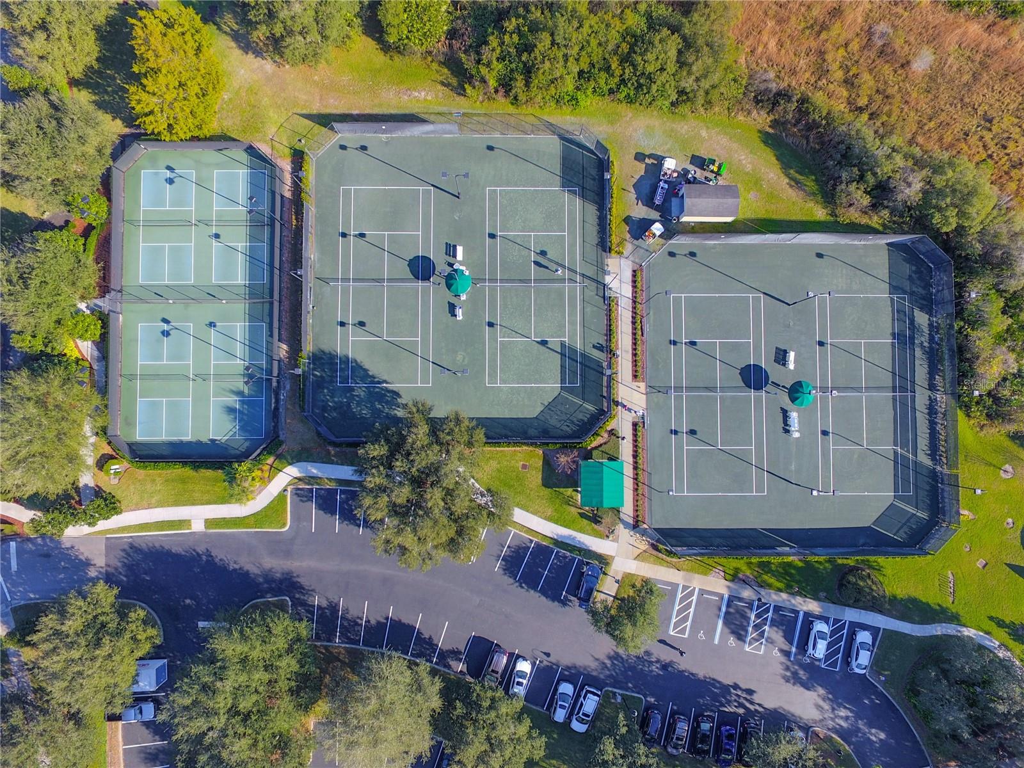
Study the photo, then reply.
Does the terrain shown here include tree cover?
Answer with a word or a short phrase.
Yes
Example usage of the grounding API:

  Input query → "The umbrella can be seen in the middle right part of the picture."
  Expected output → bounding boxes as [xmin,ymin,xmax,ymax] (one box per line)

[786,380,813,407]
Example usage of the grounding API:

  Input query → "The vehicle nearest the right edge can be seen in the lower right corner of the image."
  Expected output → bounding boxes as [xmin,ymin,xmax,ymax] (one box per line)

[847,630,872,674]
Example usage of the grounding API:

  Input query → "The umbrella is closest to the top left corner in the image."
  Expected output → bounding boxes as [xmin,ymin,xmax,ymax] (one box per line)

[445,269,472,295]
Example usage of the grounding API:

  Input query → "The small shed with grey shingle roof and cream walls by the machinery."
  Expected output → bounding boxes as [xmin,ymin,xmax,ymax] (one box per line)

[670,182,742,221]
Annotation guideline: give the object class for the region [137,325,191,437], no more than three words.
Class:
sports court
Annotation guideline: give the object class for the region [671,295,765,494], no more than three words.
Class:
tennis court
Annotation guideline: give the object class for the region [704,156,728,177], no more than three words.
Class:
vehicle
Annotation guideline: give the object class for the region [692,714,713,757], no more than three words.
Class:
car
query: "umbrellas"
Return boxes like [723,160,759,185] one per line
[445,269,472,295]
[786,380,813,407]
